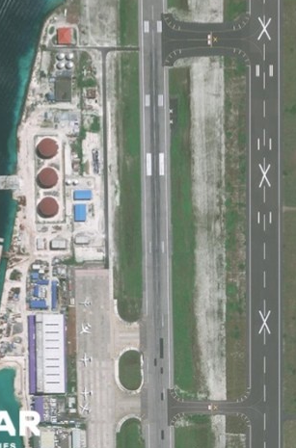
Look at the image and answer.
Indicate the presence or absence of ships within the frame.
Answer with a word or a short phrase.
No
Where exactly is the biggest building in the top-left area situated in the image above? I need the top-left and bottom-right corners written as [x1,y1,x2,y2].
[54,79,72,103]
